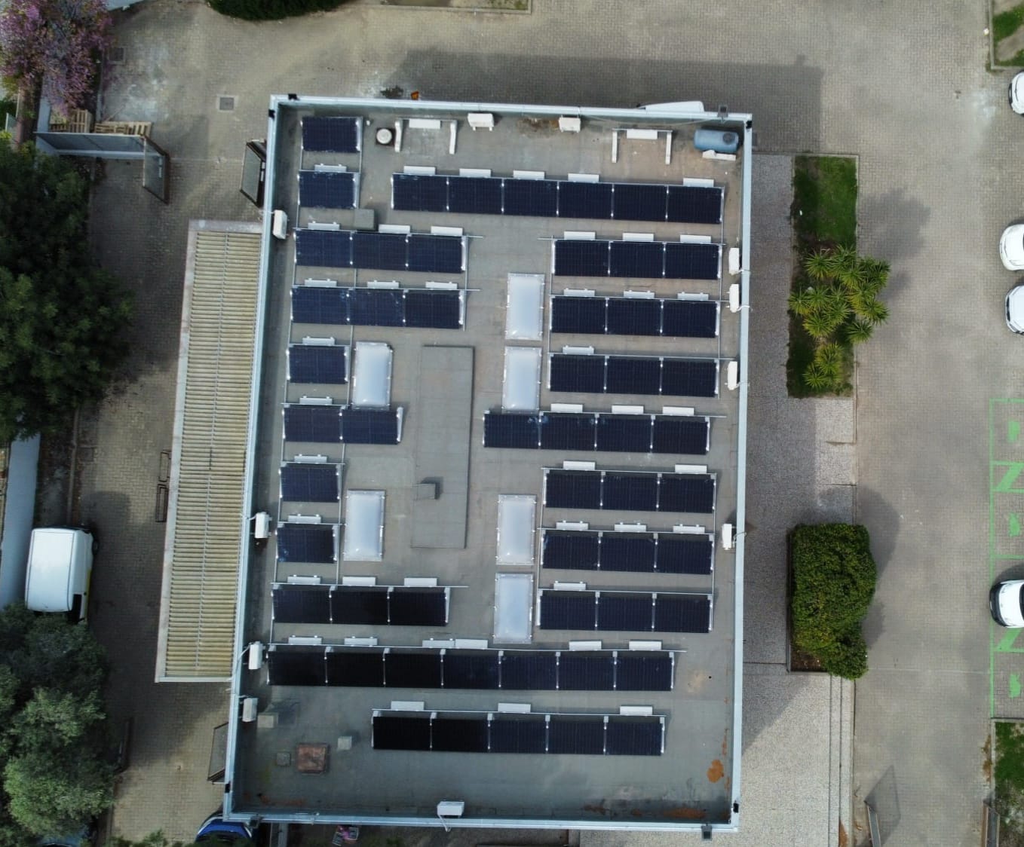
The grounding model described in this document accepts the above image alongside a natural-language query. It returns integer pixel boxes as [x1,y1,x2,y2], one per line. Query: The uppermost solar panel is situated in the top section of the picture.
[303,117,358,152]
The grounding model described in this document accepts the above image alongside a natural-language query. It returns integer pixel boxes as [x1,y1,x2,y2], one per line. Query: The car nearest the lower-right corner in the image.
[987,578,1024,632]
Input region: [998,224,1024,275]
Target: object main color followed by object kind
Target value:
white car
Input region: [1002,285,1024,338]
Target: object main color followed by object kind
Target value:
white car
